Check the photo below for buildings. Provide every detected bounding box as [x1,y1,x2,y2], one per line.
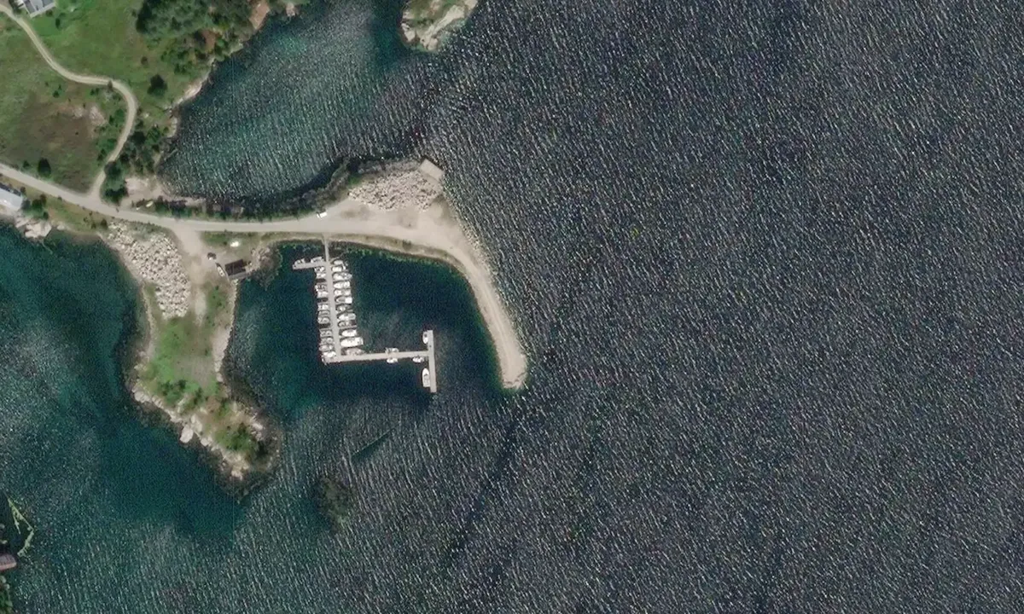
[226,259,245,275]
[25,0,56,18]
[0,185,23,215]
[0,553,14,568]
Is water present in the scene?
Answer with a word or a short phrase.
Yes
